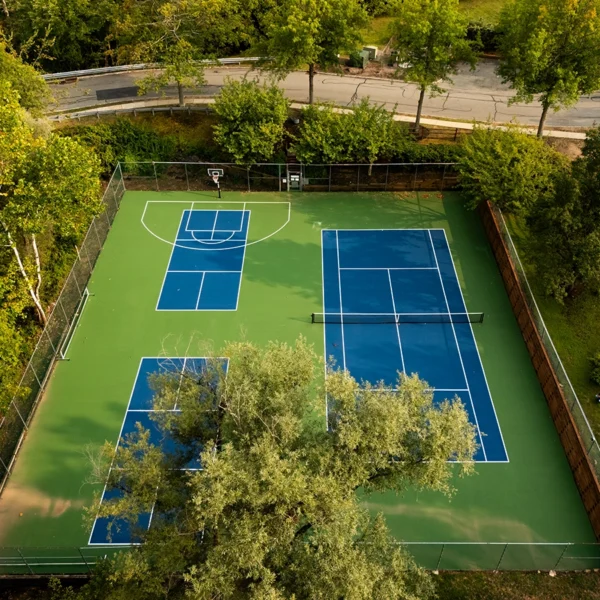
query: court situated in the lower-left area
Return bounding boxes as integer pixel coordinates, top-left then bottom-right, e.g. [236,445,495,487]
[88,357,229,546]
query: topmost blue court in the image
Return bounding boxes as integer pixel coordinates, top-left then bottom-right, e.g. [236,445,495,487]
[156,210,250,310]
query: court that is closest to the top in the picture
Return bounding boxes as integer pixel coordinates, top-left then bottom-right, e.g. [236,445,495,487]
[129,200,291,251]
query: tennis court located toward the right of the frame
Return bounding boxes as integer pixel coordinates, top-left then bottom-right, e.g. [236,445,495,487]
[321,229,510,463]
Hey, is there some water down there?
No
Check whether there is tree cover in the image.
Yes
